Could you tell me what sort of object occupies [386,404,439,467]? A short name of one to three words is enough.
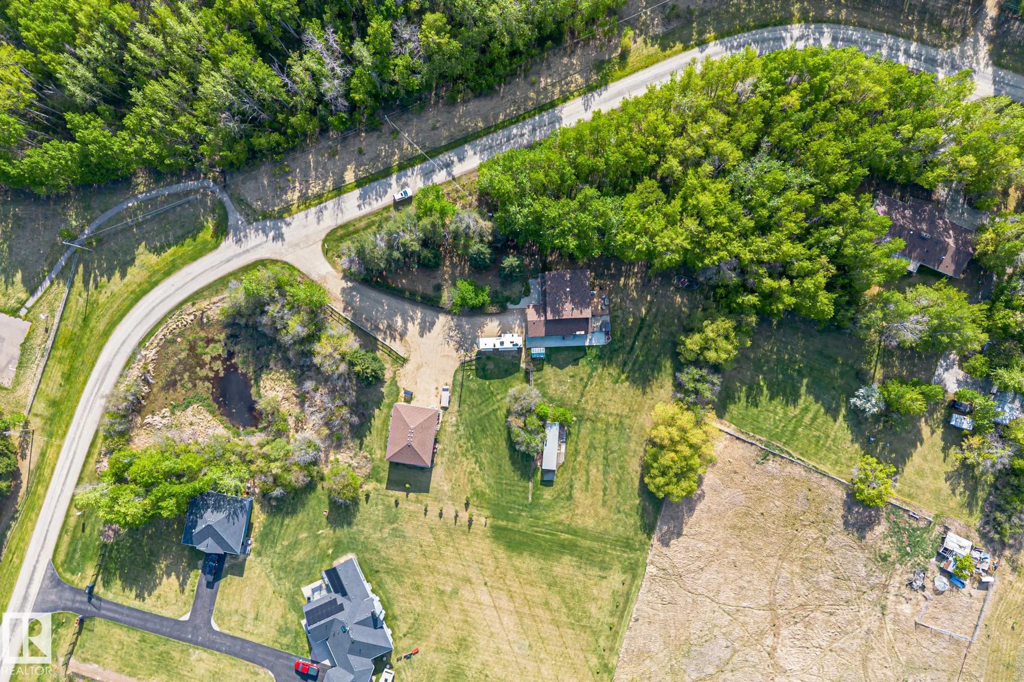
building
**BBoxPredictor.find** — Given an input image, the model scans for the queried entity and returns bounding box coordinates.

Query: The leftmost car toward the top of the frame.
[392,188,412,202]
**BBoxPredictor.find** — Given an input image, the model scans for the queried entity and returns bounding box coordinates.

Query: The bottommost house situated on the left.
[303,553,394,682]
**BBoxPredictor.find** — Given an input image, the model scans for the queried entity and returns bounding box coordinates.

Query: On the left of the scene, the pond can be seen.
[213,358,264,428]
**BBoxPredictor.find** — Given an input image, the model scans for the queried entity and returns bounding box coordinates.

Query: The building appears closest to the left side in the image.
[181,491,258,557]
